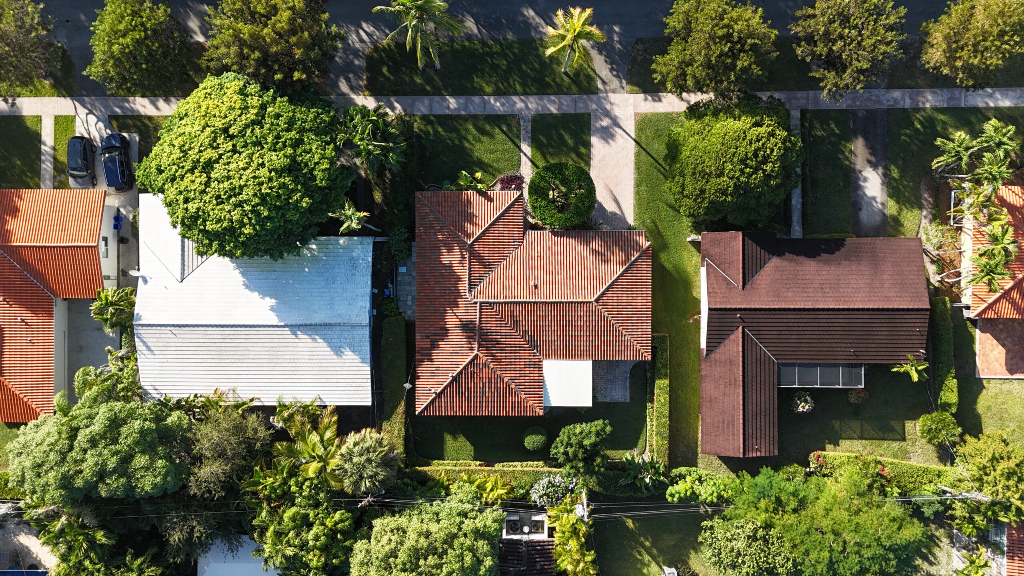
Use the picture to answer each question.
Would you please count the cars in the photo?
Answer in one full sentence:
There are 2 cars in the image.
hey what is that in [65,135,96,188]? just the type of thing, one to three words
car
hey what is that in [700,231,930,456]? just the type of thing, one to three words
house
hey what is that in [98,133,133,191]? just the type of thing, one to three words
car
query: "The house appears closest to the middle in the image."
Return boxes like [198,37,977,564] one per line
[414,190,653,416]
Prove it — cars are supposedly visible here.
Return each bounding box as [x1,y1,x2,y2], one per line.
[98,133,133,191]
[65,135,96,188]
